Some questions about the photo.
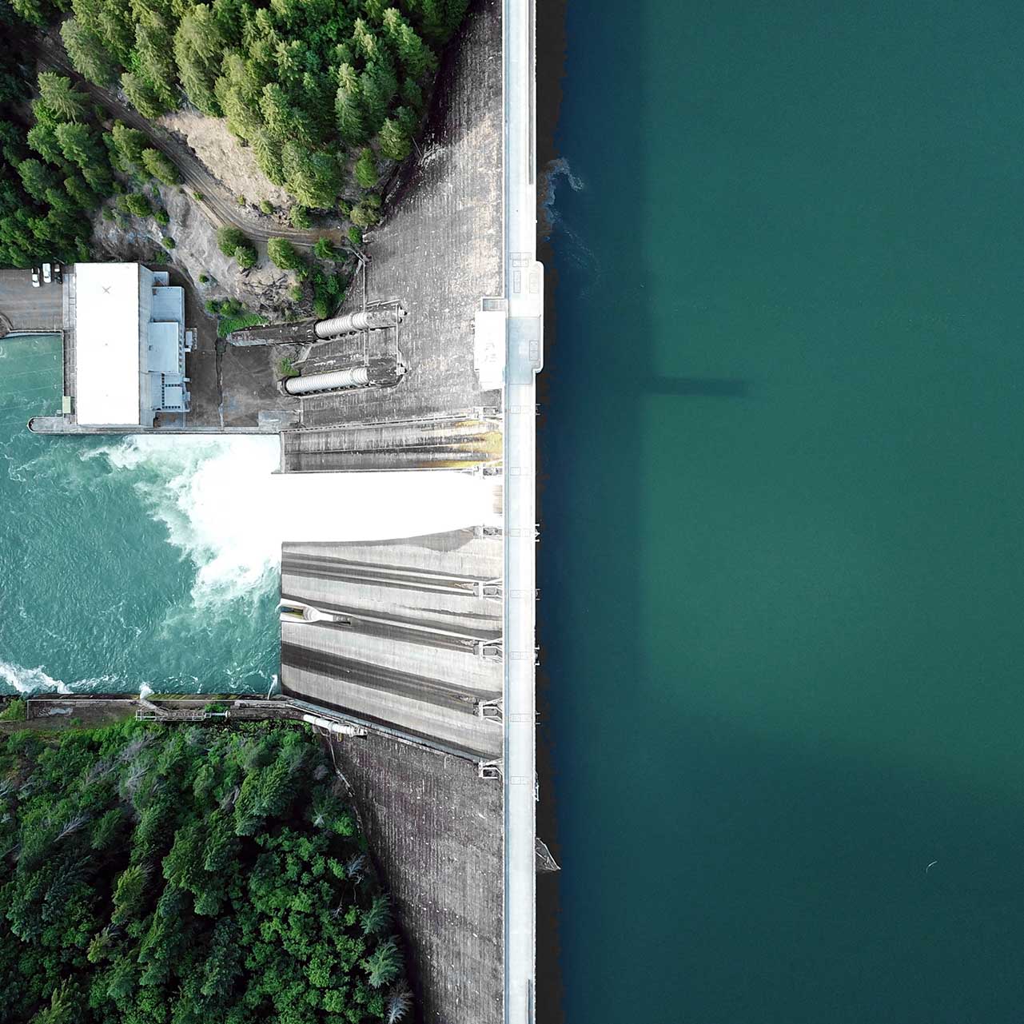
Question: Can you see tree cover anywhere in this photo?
Yes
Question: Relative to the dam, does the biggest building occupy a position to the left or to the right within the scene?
left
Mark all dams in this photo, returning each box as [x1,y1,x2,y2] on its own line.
[270,0,544,1024]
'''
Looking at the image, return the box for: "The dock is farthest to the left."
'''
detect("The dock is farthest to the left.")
[28,416,62,432]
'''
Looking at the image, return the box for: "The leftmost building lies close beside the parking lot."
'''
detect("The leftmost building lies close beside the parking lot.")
[63,264,197,429]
